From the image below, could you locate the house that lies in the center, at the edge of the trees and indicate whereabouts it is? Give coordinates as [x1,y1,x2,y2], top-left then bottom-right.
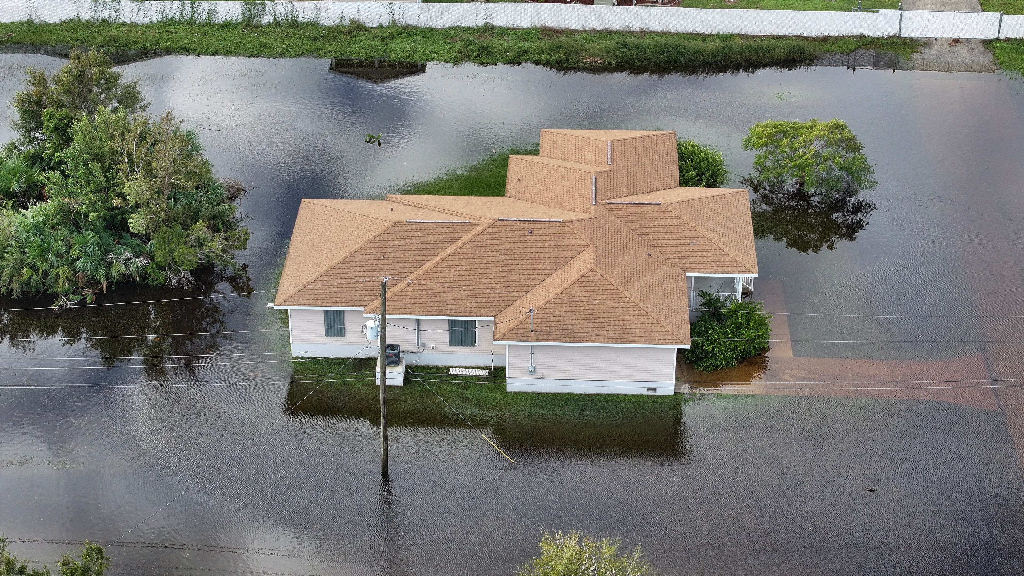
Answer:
[266,128,760,404]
